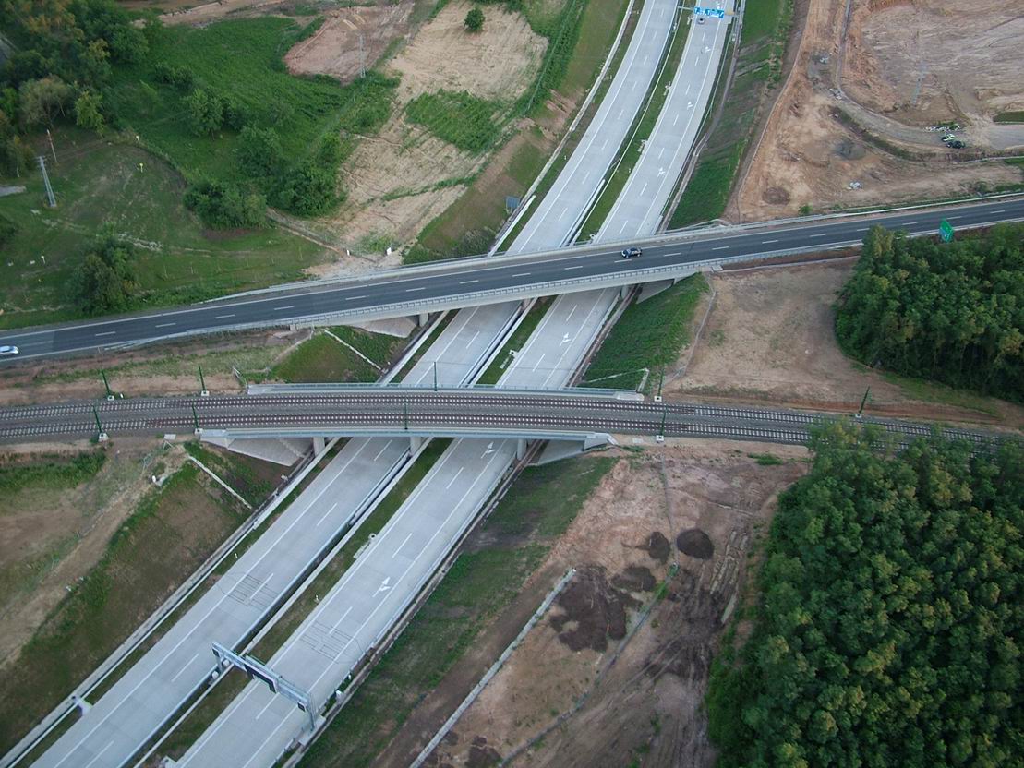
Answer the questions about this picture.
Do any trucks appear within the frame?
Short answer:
No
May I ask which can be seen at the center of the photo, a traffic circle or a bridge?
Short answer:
bridge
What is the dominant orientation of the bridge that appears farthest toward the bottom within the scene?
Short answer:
from left to right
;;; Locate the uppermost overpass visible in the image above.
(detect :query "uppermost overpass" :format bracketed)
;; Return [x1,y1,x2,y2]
[292,226,736,337]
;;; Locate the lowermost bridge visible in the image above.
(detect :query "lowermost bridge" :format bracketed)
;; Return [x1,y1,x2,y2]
[173,383,667,466]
